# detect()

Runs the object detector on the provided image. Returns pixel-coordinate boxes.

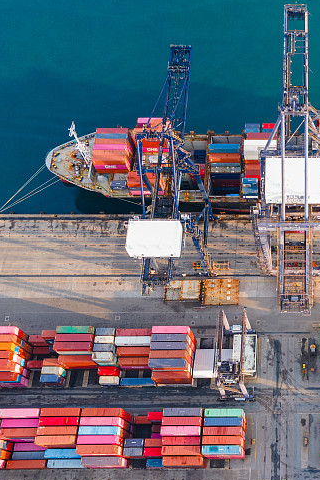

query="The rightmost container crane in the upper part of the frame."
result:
[250,2,320,312]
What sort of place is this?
port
